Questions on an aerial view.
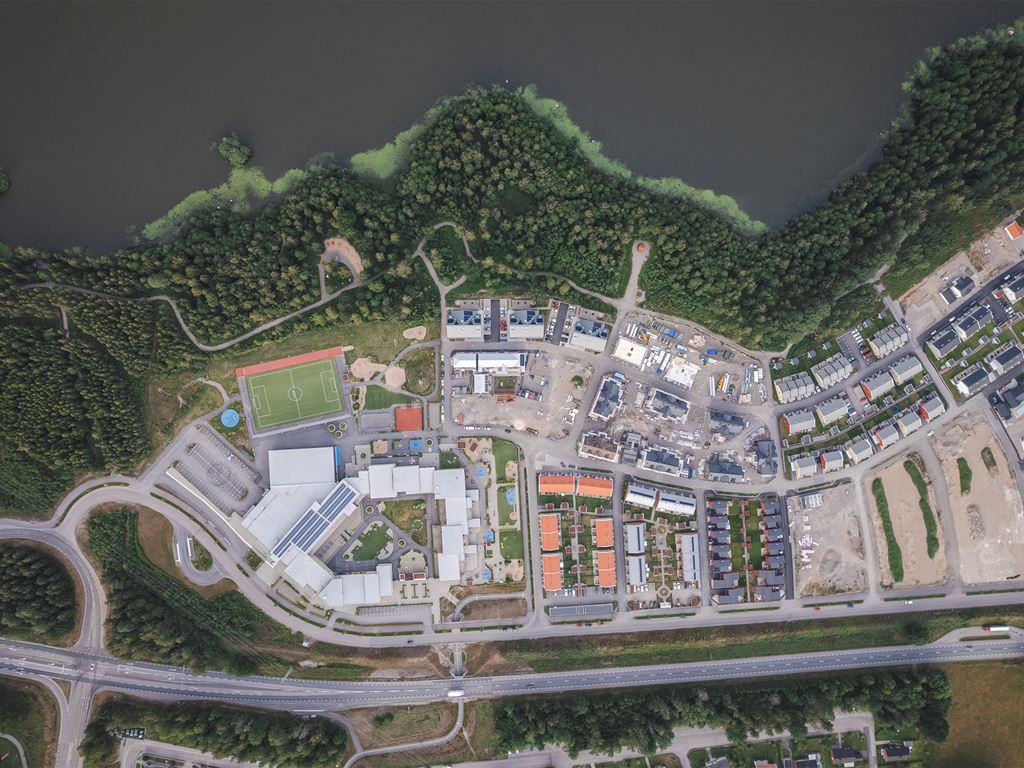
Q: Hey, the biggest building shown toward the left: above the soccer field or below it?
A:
below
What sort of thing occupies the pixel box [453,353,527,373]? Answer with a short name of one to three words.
building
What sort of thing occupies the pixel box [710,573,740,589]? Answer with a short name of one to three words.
house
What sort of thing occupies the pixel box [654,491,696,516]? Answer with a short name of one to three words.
house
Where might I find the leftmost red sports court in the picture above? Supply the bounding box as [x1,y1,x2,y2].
[396,406,422,432]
